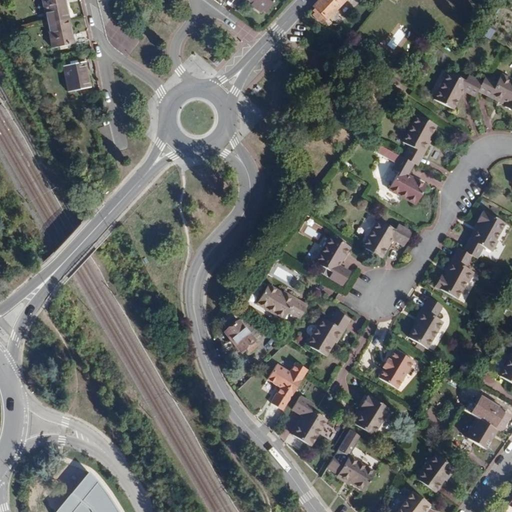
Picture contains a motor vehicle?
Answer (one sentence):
Yes, a motor vehicle appears in the view.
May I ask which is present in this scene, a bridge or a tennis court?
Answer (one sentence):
Looking from above, you can make out a bridge.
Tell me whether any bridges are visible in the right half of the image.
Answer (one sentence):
No, no bridge is visible in the right half of the image.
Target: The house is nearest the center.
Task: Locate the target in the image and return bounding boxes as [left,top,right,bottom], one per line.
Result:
[260,286,310,320]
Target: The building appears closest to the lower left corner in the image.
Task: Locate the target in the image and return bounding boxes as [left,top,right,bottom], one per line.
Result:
[58,472,116,512]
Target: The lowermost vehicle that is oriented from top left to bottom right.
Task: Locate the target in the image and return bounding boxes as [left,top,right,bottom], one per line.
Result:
[268,446,293,473]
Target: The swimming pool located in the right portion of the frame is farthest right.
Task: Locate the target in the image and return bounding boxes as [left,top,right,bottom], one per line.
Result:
[379,162,396,187]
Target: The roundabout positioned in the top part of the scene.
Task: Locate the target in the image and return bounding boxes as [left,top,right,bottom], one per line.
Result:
[158,79,237,158]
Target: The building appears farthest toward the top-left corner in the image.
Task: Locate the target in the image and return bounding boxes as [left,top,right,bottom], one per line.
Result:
[40,0,76,50]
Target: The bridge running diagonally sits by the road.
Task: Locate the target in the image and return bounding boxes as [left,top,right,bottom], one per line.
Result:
[44,211,106,288]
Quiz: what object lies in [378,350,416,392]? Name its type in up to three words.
house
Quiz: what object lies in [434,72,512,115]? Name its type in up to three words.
house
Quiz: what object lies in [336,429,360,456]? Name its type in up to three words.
barn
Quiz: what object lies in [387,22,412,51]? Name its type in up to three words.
building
